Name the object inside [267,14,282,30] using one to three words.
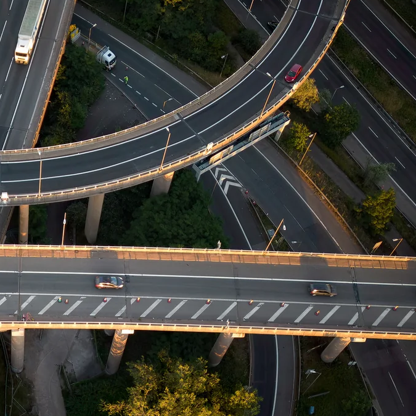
car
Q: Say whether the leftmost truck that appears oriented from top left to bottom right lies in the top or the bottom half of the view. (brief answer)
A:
top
